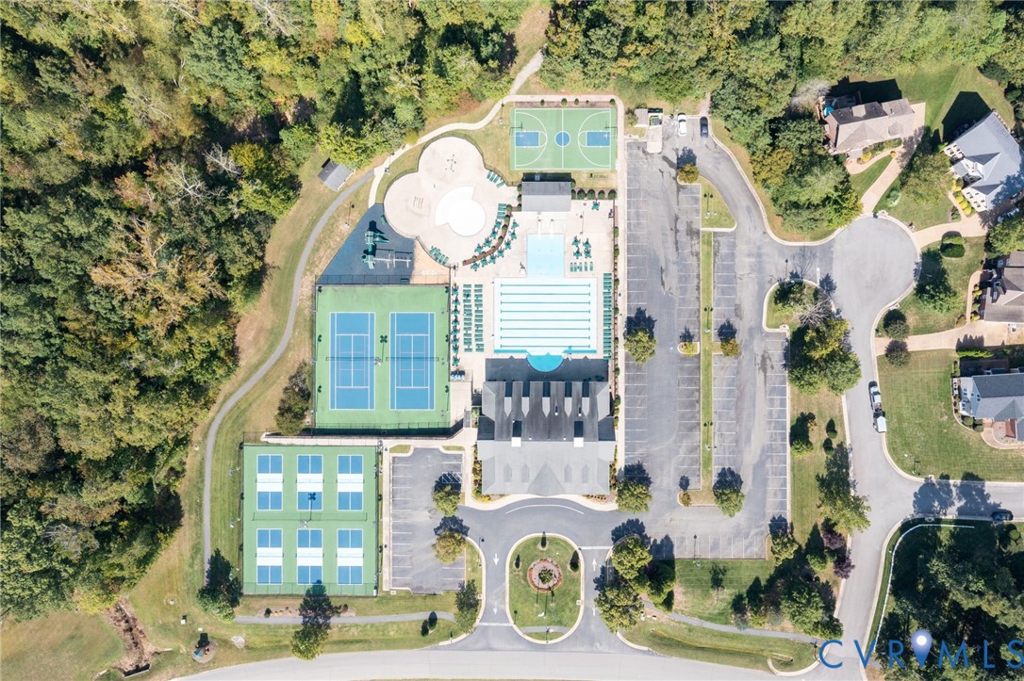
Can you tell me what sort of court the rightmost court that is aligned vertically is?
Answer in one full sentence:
Looking closely, the rightmost court that is aligned vertically is a tennis court.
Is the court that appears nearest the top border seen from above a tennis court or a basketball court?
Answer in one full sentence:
It turns out the court that appears nearest the top border is a basketball court.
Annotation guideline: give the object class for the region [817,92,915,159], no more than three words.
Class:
house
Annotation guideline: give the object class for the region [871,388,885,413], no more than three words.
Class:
vehicle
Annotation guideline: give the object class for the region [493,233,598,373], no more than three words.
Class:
swimming pool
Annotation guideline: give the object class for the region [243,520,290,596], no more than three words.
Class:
sports court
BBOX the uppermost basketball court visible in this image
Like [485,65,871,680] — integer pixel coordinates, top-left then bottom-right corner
[510,107,616,170]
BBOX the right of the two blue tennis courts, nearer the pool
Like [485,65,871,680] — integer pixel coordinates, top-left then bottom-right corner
[382,286,449,431]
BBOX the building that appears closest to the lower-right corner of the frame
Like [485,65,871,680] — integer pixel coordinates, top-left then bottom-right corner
[952,376,1024,447]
